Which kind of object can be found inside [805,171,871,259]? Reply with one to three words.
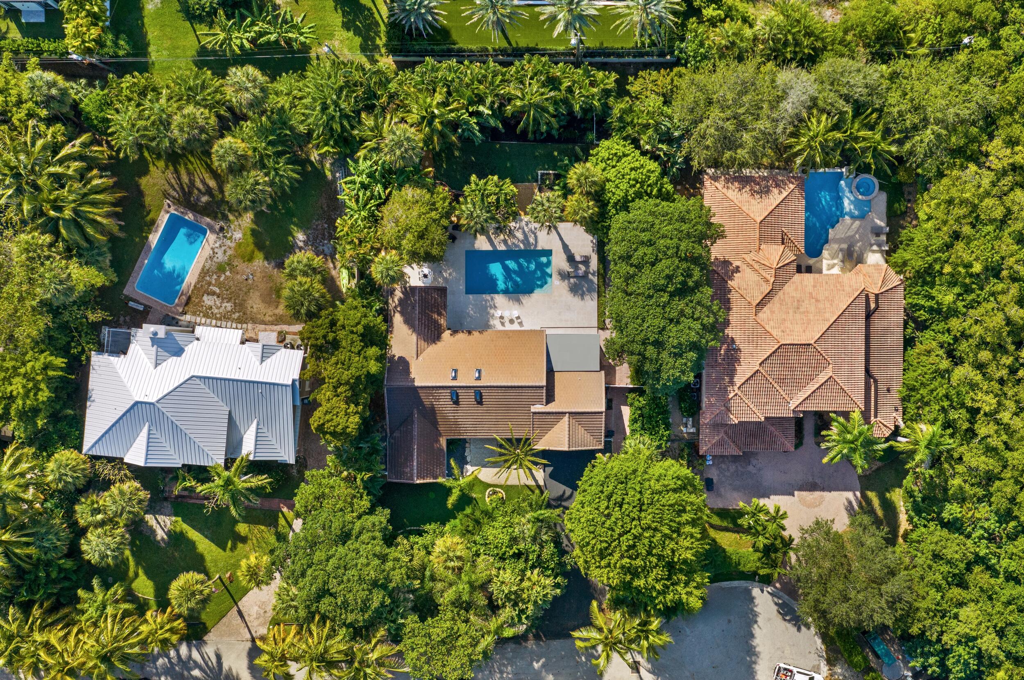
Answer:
swimming pool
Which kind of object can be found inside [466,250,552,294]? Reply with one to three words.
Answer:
swimming pool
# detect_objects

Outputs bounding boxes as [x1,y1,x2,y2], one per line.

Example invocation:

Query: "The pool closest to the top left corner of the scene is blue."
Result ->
[135,212,209,307]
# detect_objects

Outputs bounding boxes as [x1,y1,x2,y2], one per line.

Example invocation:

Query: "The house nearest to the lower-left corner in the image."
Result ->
[82,323,311,467]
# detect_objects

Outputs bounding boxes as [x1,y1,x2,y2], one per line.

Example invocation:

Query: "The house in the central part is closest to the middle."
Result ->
[385,287,606,484]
